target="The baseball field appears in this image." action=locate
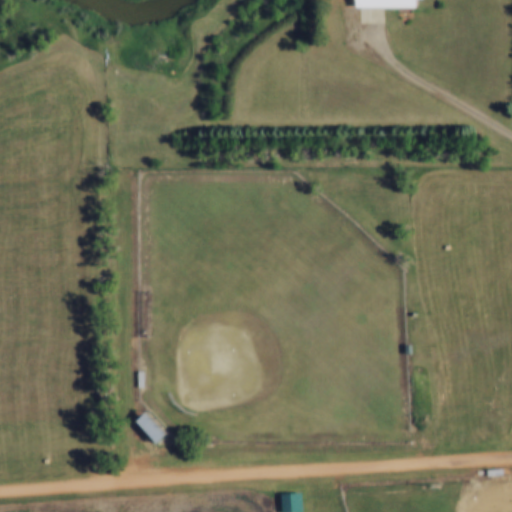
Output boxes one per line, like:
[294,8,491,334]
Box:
[148,182,404,438]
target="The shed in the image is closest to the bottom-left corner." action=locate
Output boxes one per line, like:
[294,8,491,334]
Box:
[136,412,166,444]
